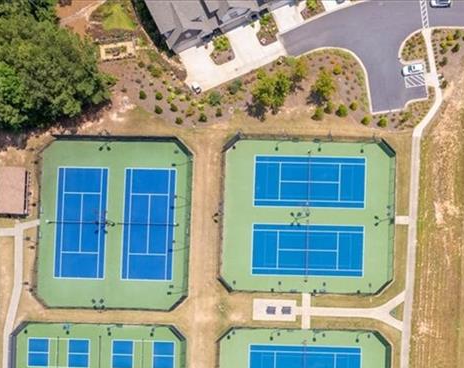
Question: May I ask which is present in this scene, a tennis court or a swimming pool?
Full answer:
The image shows a tennis court.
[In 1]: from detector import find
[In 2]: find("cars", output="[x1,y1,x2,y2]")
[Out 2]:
[430,0,451,8]
[402,62,424,76]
